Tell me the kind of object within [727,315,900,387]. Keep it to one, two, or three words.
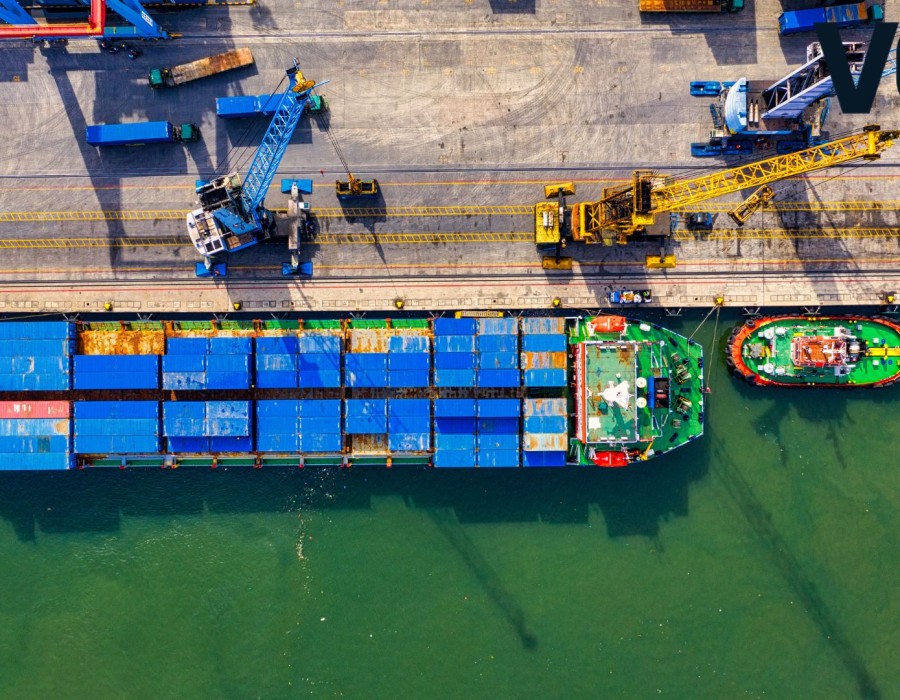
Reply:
boat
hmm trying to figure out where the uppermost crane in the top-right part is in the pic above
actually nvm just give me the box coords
[688,40,900,157]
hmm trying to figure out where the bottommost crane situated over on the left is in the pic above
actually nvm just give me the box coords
[188,57,352,278]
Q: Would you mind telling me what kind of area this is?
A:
port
